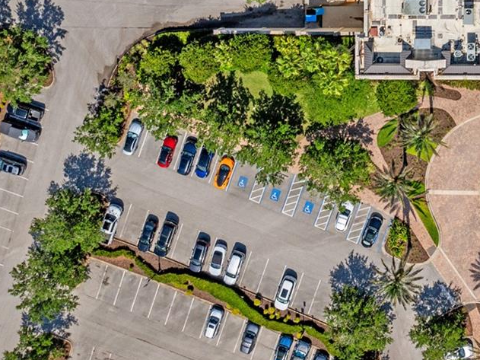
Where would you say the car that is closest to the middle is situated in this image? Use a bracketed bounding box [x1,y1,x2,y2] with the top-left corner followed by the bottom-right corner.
[215,156,236,188]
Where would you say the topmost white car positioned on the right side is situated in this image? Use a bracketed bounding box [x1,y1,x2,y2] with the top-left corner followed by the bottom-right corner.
[335,198,355,233]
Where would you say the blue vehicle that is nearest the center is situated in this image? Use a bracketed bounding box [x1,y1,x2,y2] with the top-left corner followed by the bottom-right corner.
[195,145,216,181]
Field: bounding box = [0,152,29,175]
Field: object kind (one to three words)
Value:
car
